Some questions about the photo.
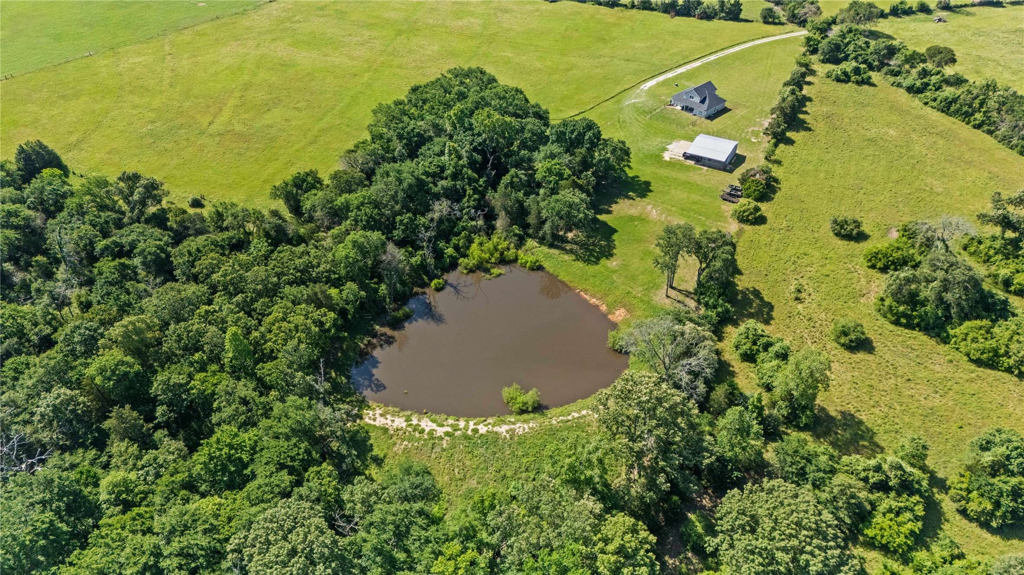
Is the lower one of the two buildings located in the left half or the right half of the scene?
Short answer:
right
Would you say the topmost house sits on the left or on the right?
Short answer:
right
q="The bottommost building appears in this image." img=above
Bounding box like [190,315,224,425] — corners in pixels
[685,133,738,170]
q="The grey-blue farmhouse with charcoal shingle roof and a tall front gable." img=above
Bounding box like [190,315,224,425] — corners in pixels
[670,82,729,118]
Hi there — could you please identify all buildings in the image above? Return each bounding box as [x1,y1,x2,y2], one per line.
[670,82,729,118]
[685,133,738,170]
